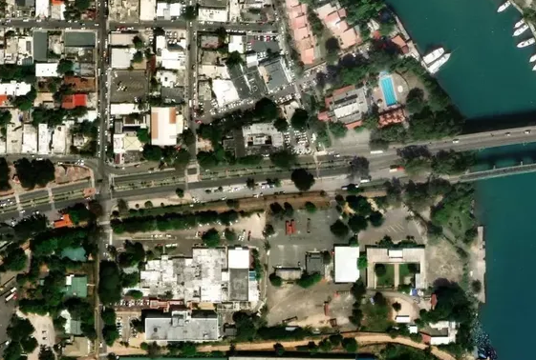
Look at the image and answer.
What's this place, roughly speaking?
residential area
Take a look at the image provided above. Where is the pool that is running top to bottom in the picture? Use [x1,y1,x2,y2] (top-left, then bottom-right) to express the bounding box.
[379,73,397,106]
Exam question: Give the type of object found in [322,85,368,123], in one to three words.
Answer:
building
